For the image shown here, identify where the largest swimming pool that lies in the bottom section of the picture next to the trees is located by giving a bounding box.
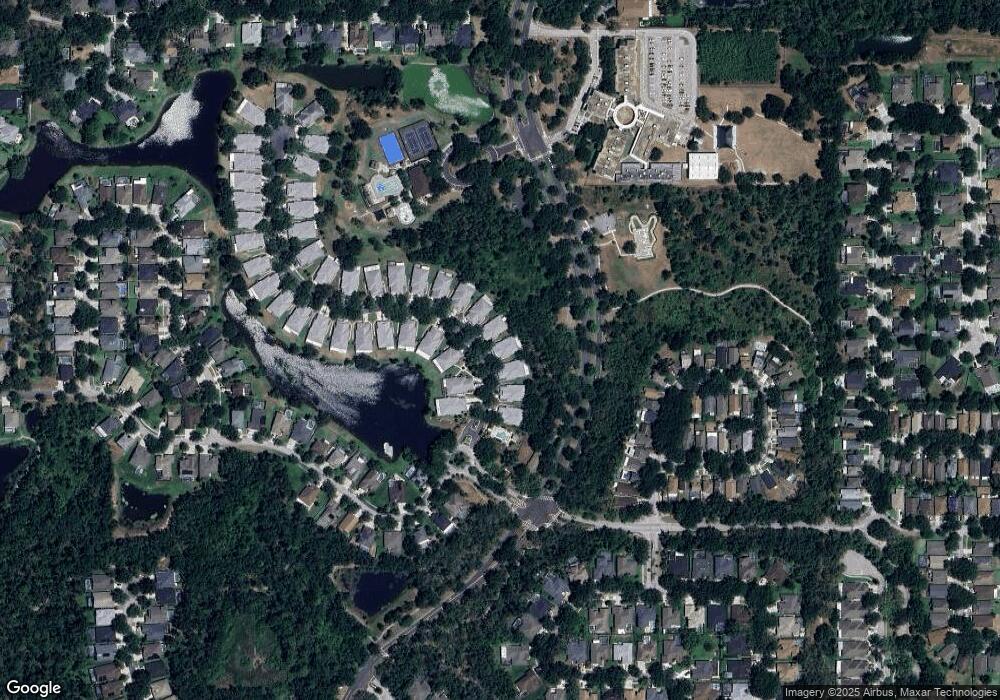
[490,426,512,443]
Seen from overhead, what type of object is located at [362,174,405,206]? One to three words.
swimming pool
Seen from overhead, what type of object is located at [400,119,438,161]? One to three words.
tennis court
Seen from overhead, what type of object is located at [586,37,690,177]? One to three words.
building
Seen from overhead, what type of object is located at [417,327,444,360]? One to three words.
house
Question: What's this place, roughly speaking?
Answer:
residential area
